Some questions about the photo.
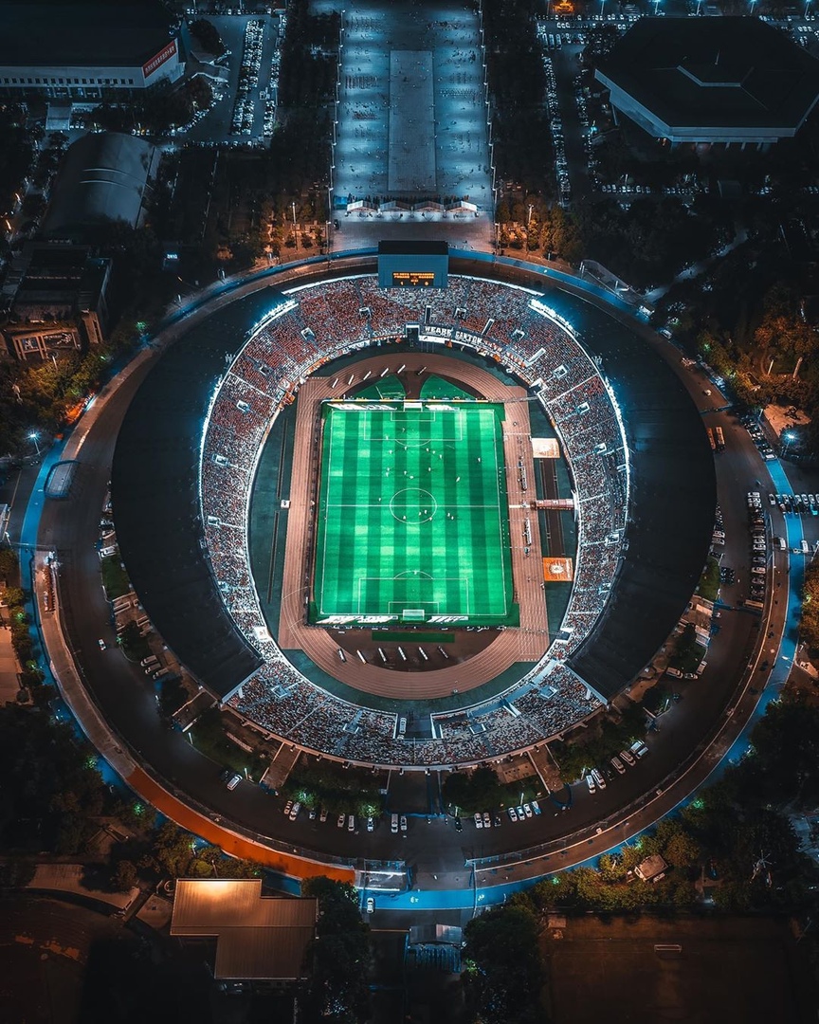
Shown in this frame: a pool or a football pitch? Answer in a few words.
football pitch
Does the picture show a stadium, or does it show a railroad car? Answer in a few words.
stadium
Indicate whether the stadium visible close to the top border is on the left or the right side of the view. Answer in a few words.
right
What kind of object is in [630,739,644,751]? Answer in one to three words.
vehicle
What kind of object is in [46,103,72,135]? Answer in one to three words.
building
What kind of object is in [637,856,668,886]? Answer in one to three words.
house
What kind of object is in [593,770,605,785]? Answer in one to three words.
vehicle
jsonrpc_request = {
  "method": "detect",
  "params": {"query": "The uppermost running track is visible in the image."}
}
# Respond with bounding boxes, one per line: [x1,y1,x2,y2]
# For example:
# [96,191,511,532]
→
[278,353,549,696]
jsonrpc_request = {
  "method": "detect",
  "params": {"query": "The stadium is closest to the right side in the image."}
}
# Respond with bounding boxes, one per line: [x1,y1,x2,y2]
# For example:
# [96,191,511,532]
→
[594,17,819,152]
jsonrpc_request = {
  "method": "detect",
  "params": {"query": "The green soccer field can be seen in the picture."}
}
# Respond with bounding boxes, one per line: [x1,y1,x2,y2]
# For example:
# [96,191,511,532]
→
[308,399,519,626]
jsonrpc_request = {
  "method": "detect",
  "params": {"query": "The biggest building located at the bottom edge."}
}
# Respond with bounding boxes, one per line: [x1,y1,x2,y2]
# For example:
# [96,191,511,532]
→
[170,878,319,991]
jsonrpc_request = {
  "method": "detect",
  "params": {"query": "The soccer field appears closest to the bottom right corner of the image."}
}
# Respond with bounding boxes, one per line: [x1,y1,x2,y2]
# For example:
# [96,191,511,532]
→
[545,916,819,1024]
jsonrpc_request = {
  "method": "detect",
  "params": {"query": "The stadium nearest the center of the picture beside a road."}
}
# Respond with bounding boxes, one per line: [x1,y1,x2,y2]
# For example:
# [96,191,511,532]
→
[112,276,716,775]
